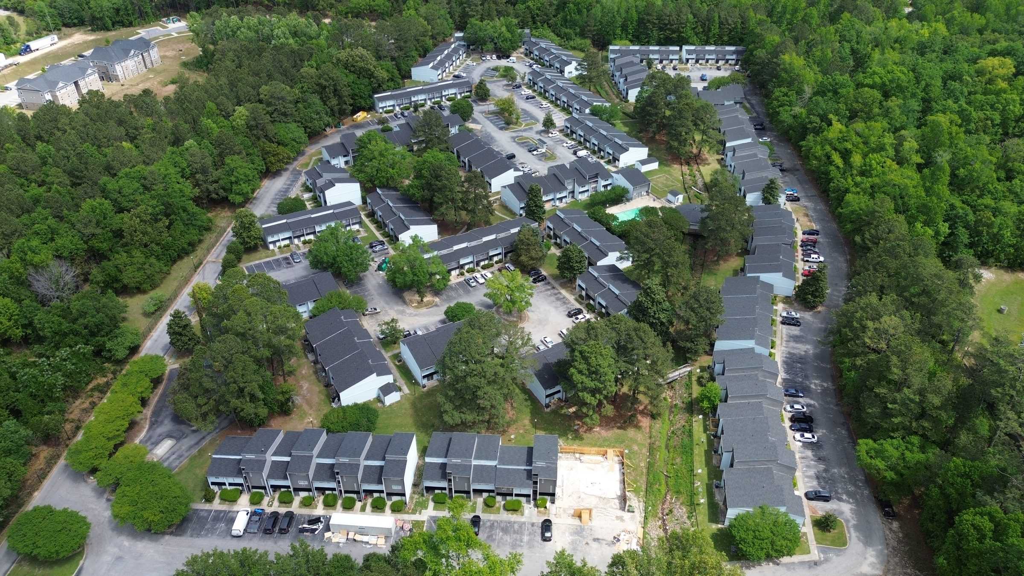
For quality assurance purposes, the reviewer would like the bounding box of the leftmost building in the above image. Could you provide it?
[21,67,104,112]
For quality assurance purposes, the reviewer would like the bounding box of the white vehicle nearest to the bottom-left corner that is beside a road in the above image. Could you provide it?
[230,509,251,536]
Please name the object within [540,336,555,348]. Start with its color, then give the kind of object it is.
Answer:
white vehicle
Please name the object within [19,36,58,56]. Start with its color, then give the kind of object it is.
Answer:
white vehicle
